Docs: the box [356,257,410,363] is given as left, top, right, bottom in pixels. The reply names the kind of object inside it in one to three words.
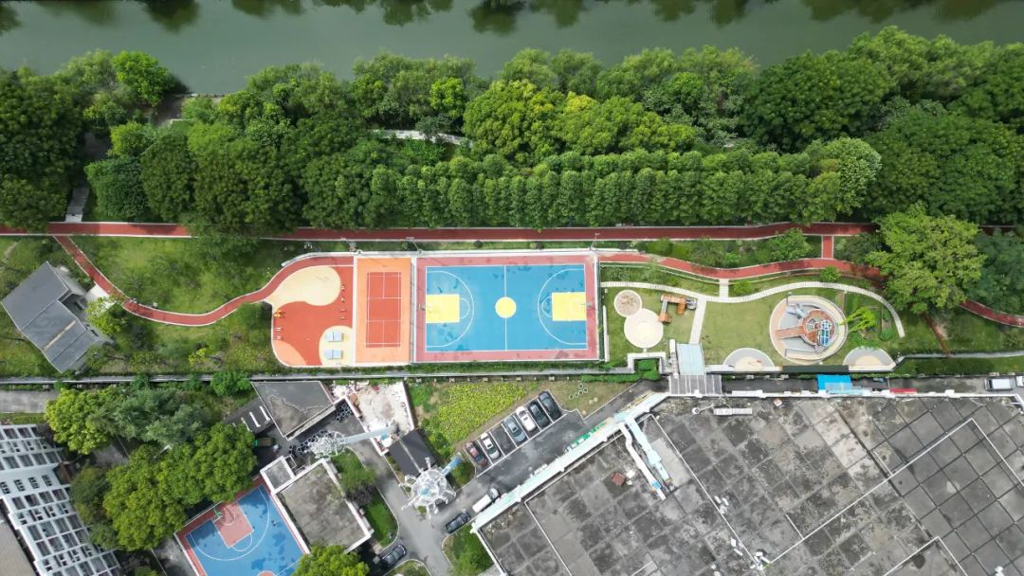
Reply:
sports court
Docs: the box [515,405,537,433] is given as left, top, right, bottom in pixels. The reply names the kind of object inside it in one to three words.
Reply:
car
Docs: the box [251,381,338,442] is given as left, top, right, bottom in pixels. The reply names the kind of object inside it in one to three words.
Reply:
building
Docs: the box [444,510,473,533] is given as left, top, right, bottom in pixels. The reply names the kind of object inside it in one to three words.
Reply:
car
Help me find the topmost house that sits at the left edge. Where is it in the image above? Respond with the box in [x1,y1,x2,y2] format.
[0,261,120,376]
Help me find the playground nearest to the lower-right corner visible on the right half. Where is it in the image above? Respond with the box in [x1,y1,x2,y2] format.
[767,292,848,366]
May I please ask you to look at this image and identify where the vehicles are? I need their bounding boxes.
[254,436,284,447]
[539,391,562,420]
[469,486,500,512]
[515,405,537,433]
[444,510,473,533]
[980,379,1015,390]
[464,441,486,467]
[479,432,500,459]
[528,400,551,428]
[503,415,525,443]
